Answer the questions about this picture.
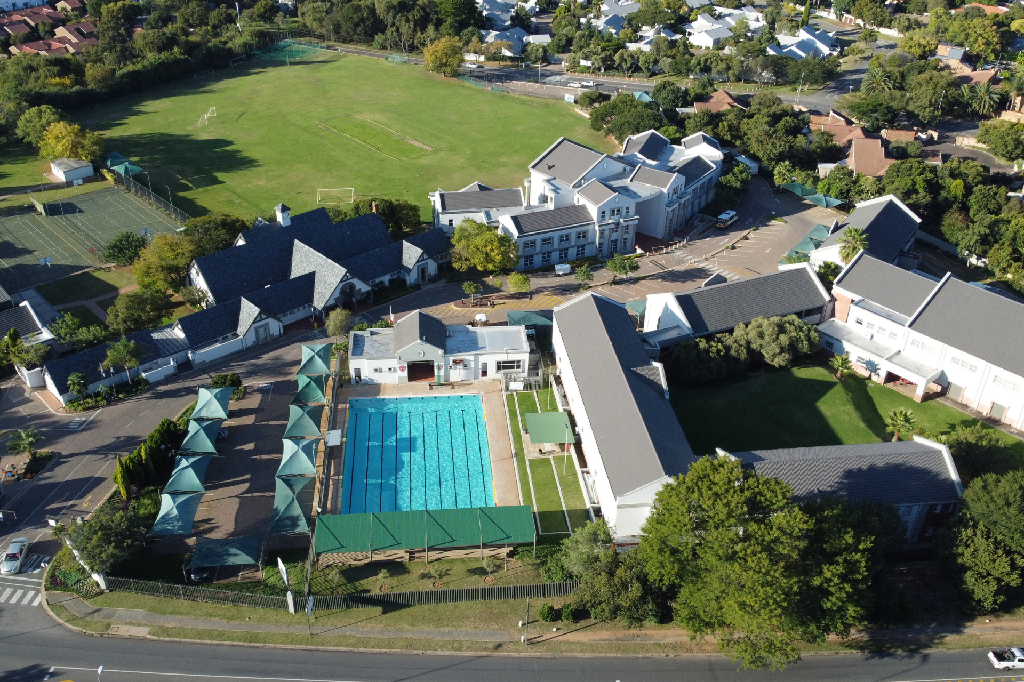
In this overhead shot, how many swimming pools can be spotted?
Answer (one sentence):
In total, 1 swimming pool can be seen.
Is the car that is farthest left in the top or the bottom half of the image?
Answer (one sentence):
It is in the bottom half that the car that is farthest left appears.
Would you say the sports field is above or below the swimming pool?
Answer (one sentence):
You can see the sports field above the swimming pool in the frame.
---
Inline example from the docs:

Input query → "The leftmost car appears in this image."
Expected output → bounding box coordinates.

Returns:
[0,540,32,574]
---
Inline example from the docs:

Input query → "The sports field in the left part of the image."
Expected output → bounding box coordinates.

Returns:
[0,51,624,249]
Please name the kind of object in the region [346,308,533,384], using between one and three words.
building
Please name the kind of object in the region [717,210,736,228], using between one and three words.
vehicle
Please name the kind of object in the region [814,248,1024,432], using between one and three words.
building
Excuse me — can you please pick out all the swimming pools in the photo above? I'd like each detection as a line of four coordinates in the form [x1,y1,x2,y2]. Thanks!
[339,395,496,514]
